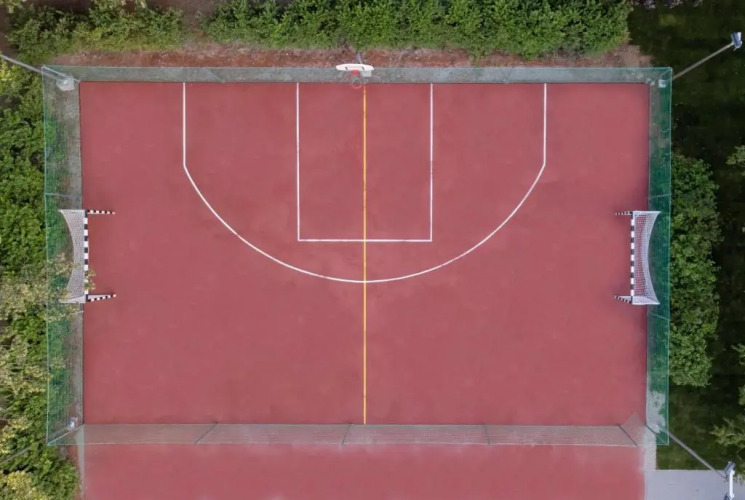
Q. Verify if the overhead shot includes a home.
No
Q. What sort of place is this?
sports ground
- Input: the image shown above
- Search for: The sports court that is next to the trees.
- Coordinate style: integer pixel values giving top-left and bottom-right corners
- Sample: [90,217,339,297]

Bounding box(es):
[80,82,649,500]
